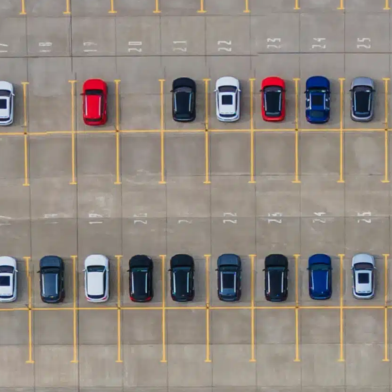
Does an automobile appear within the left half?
Yes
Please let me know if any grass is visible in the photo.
No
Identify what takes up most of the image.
paved ground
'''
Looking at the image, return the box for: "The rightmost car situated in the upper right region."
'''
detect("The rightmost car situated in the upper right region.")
[350,78,375,122]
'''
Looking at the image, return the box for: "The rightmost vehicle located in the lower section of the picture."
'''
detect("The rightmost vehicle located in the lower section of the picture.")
[350,254,376,299]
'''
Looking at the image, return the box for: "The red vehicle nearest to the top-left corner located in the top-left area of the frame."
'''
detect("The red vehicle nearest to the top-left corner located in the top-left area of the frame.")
[81,80,107,127]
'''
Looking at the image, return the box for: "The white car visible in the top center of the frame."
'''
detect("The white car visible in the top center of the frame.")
[214,78,240,122]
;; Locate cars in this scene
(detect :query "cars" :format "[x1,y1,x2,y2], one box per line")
[350,254,376,299]
[214,78,240,122]
[169,255,195,302]
[259,78,286,122]
[216,255,242,302]
[38,256,64,304]
[81,80,107,127]
[263,255,289,302]
[306,254,334,301]
[0,256,17,303]
[350,78,375,122]
[304,77,331,125]
[0,81,15,127]
[170,78,197,122]
[83,255,110,303]
[128,255,153,303]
